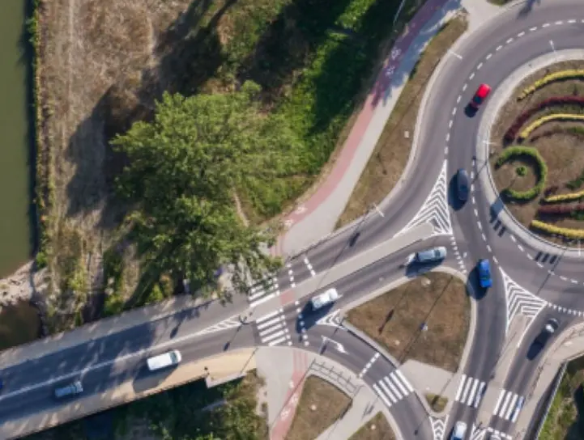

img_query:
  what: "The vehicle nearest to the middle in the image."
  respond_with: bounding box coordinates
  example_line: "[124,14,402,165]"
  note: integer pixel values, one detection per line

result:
[311,288,340,309]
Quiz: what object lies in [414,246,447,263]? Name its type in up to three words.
car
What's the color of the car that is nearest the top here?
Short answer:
red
